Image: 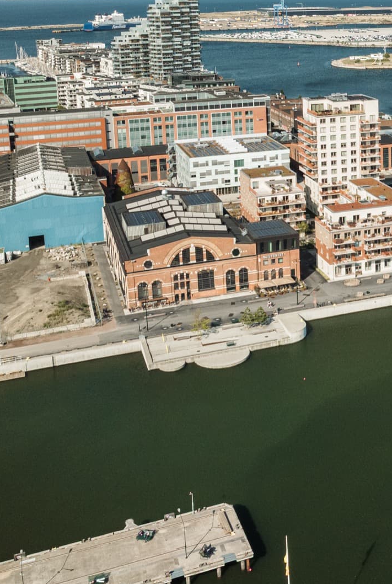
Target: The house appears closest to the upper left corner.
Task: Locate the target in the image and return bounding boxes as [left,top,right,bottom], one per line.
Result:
[38,40,67,70]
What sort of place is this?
port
